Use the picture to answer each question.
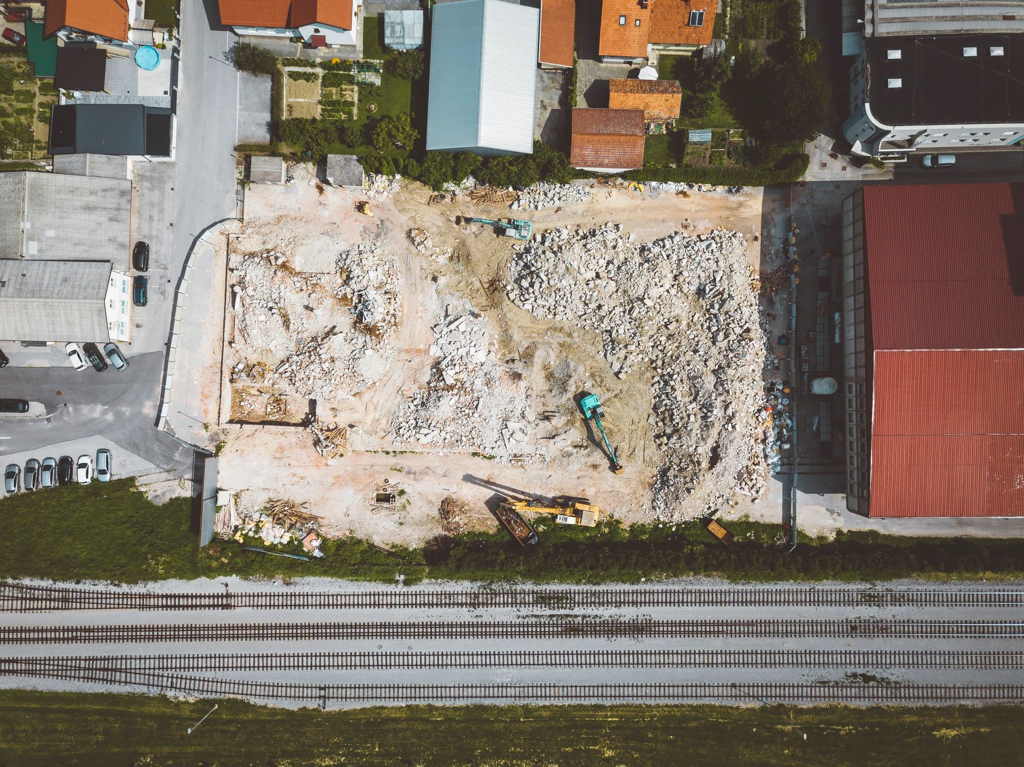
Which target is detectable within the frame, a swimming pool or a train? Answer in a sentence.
This aerial view contains a swimming pool.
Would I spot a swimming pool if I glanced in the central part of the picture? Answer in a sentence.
No, looking in the central part of the picture, there is no swimming pool.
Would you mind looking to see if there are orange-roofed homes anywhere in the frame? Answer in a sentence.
Yes, this view includes an orange-roofed home.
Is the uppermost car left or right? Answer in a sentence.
The uppermost car is on the left side of the image.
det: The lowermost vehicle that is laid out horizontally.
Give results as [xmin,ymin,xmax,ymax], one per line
[502,503,602,528]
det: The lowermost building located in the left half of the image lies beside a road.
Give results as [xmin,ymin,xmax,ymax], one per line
[0,261,133,346]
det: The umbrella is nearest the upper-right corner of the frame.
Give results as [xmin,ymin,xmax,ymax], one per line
[638,65,657,80]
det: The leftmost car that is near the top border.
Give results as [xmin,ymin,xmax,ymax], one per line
[0,25,27,49]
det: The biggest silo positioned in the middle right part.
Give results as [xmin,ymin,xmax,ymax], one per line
[807,376,837,394]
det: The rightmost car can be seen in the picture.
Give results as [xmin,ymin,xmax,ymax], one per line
[921,153,956,169]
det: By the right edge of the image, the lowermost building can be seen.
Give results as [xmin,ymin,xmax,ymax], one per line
[844,183,1024,519]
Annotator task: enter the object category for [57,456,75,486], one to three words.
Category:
car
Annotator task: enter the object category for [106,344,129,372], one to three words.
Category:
car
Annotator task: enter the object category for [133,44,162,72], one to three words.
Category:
swimming pool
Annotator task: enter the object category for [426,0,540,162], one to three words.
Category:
barn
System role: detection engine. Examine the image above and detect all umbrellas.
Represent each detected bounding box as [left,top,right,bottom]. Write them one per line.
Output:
[638,65,657,80]
[74,92,86,101]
